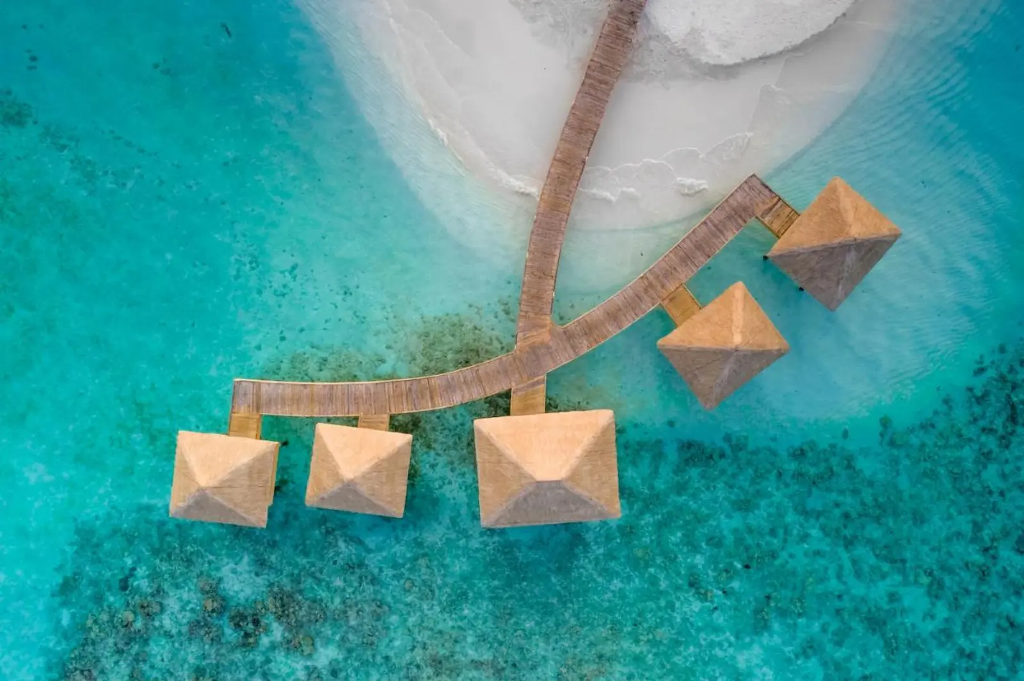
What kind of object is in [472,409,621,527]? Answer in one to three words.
building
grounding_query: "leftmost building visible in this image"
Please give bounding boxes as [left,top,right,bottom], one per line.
[169,429,292,529]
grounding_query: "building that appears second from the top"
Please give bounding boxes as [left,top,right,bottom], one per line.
[656,282,791,410]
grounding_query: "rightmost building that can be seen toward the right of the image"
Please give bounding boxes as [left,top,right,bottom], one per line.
[760,176,903,311]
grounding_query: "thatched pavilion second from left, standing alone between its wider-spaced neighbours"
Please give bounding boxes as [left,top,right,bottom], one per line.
[306,422,415,519]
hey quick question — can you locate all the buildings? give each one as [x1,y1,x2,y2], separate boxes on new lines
[760,176,903,311]
[169,429,292,529]
[472,409,621,527]
[306,422,415,519]
[656,282,791,410]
